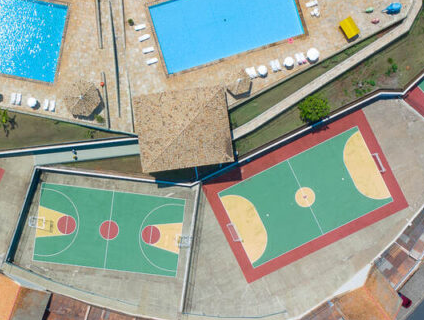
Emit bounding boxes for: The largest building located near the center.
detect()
[133,86,234,173]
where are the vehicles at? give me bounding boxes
[397,290,412,310]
